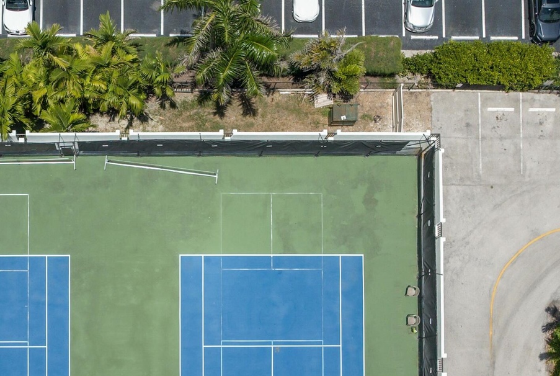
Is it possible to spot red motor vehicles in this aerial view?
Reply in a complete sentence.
No, this view has no red motor vehicle in it.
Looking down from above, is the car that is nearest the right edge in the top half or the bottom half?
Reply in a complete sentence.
The car that is nearest the right edge sits in the top half of the picture.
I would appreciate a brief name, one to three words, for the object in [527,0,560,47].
car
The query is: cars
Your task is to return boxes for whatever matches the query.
[1,0,35,37]
[402,0,437,35]
[527,0,560,47]
[289,0,323,26]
